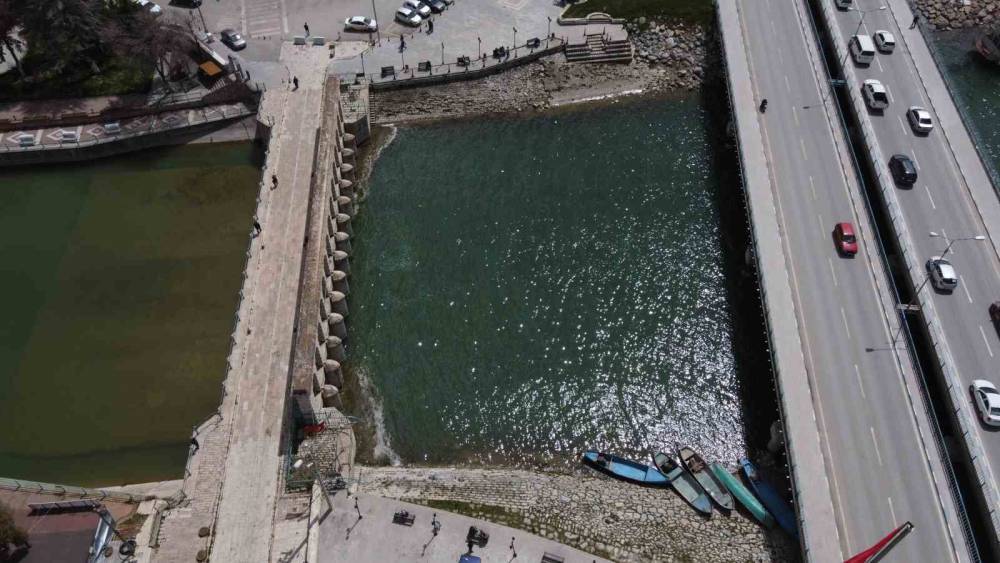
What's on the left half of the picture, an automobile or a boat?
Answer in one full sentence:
The feature located on the left half of the picture is an automobile.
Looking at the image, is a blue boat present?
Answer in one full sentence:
Yes, a blue boat can be made out from above.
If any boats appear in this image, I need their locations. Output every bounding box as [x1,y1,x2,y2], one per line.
[679,448,733,509]
[710,461,775,527]
[652,453,711,515]
[738,458,800,538]
[582,453,673,487]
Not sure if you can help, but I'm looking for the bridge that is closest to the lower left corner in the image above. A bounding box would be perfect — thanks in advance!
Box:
[150,42,369,563]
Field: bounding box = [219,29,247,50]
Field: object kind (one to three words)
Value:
car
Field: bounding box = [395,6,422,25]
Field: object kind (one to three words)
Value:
car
